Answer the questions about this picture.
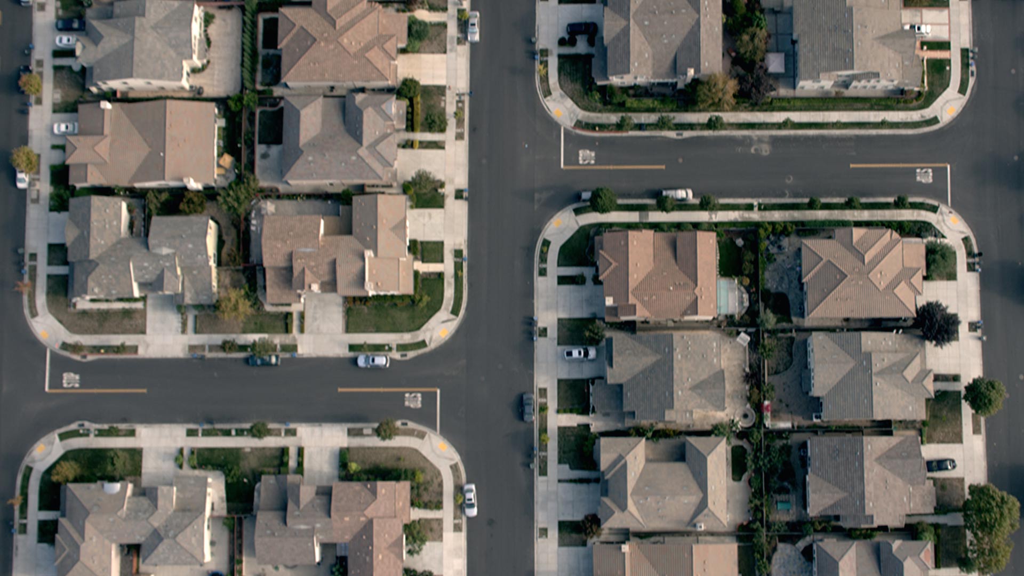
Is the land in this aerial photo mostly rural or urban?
urban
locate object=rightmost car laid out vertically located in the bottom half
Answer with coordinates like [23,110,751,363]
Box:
[521,392,535,422]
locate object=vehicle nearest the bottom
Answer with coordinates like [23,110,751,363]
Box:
[462,485,476,516]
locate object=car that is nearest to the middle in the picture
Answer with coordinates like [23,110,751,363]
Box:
[565,346,594,361]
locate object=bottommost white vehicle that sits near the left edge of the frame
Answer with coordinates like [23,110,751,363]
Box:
[15,166,29,191]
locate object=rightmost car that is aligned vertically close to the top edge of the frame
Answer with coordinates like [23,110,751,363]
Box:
[466,13,480,42]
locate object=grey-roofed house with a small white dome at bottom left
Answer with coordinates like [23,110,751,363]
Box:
[52,476,215,576]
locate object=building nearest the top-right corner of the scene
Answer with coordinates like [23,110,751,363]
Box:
[792,0,923,93]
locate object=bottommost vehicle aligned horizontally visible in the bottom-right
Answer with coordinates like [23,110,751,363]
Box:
[928,459,957,473]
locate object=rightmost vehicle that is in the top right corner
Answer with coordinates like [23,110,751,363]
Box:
[904,20,933,35]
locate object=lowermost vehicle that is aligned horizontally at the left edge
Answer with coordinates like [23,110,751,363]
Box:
[51,121,78,134]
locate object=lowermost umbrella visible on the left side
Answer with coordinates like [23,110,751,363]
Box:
[261,201,275,214]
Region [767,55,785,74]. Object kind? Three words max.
gazebo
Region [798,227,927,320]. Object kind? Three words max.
house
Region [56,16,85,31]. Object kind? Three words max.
car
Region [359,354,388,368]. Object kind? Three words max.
car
